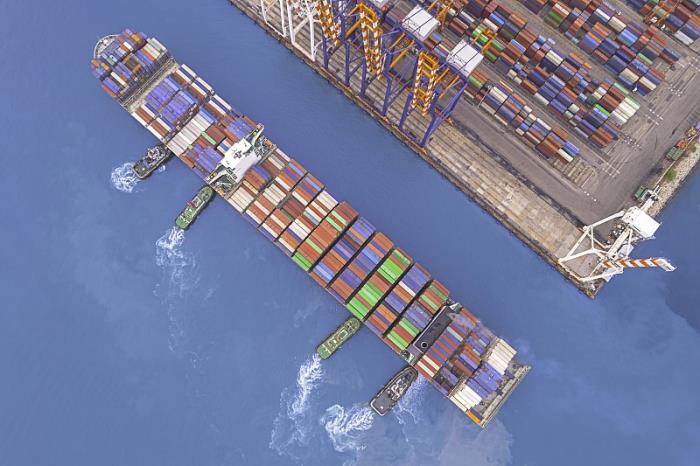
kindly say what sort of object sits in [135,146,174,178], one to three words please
boat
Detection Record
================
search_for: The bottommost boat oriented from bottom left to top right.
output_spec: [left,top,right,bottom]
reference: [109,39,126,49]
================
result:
[372,366,419,415]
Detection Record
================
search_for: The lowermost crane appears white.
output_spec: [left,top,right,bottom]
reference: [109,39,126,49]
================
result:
[557,180,683,282]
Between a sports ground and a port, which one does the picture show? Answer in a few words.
port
